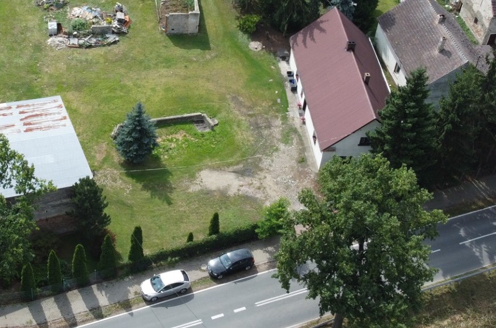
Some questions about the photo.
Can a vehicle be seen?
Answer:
Yes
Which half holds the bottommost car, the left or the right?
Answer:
left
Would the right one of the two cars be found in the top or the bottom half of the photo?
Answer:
bottom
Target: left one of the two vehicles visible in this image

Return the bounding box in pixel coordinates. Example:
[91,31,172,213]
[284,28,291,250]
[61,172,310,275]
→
[139,266,192,300]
